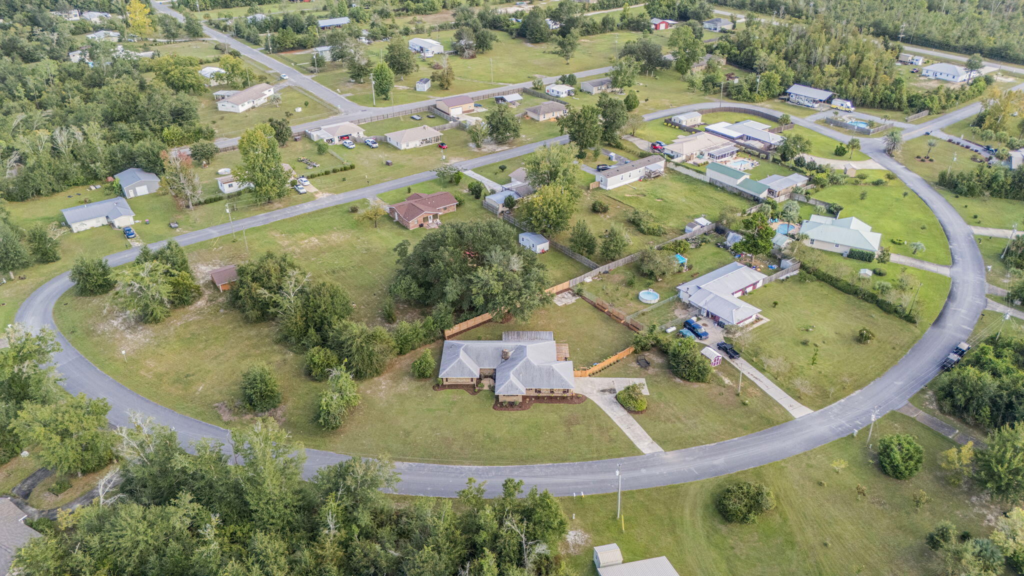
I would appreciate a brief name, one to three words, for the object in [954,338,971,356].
car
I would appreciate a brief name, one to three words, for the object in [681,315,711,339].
truck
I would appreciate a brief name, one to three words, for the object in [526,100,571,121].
house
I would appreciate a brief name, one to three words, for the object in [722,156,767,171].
swimming pool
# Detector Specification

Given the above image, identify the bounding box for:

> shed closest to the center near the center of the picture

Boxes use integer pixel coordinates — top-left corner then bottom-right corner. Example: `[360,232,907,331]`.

[523,229,549,253]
